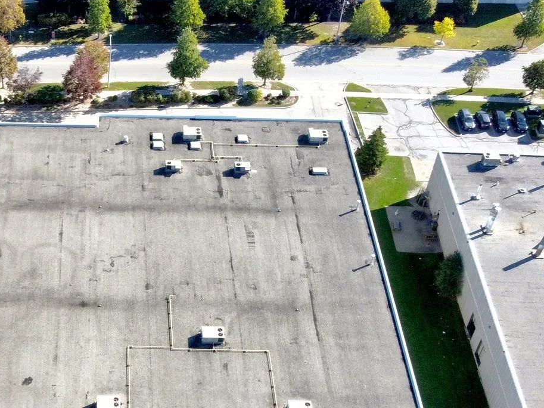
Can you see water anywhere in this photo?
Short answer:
No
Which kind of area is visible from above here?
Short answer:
industrial area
